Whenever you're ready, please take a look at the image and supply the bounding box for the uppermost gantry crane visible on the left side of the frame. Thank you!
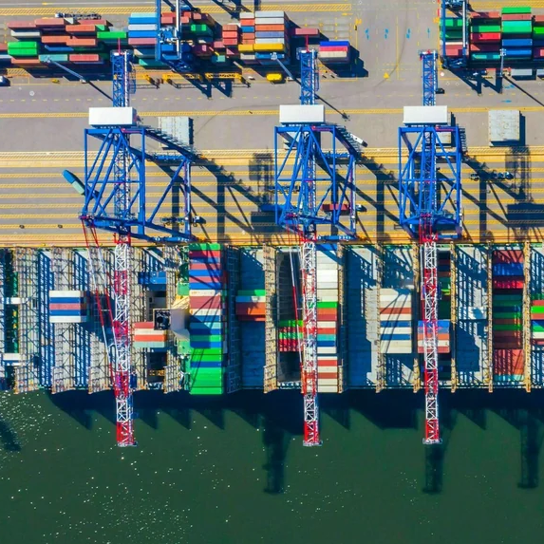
[154,0,202,63]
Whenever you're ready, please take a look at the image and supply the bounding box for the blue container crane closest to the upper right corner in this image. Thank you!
[441,0,473,65]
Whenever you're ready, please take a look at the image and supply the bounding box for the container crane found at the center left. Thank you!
[73,49,210,449]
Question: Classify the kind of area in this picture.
port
